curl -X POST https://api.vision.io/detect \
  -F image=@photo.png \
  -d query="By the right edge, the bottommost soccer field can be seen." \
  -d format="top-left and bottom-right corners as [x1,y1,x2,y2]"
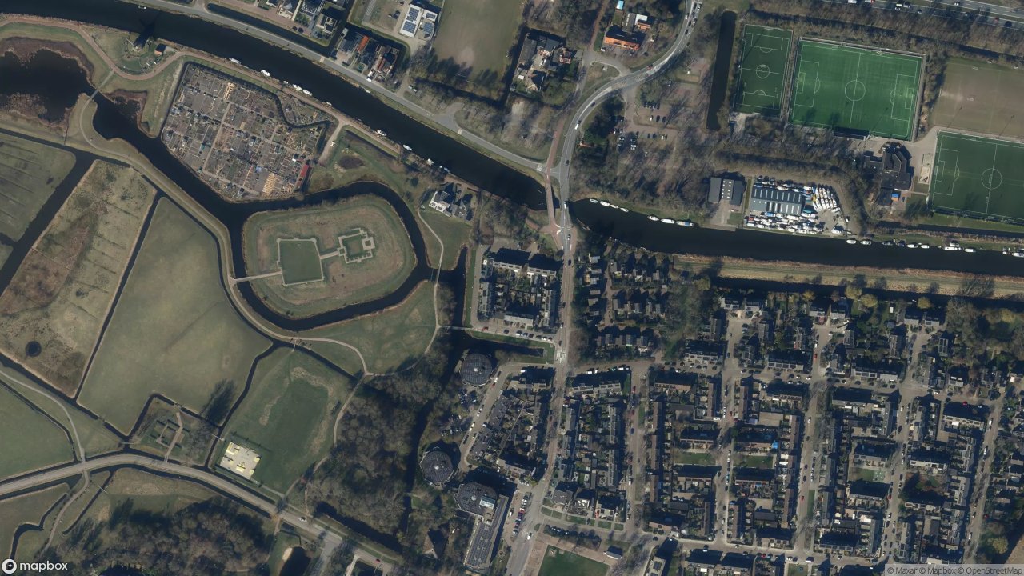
[929,131,1024,224]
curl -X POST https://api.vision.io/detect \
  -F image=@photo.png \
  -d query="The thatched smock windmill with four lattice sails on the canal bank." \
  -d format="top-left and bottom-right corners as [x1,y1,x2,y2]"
[126,41,143,57]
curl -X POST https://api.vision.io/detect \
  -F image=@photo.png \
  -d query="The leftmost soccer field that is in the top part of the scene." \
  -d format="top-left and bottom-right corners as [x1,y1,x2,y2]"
[733,24,793,118]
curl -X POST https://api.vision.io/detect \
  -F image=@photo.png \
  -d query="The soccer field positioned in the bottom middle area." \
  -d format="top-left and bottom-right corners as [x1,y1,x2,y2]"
[537,546,611,576]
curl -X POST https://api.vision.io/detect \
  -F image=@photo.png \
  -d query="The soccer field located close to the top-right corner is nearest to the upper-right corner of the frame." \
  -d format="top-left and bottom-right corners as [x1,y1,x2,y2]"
[941,61,1024,136]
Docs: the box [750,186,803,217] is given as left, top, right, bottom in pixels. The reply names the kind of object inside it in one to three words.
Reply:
building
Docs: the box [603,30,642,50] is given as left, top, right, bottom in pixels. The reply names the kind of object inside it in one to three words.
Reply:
house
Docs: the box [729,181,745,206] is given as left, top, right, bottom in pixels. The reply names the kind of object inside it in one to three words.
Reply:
building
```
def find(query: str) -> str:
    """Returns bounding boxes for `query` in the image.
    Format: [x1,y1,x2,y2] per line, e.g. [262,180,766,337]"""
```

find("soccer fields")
[788,37,926,141]
[941,61,1024,136]
[537,546,611,576]
[733,24,793,118]
[929,131,1024,224]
